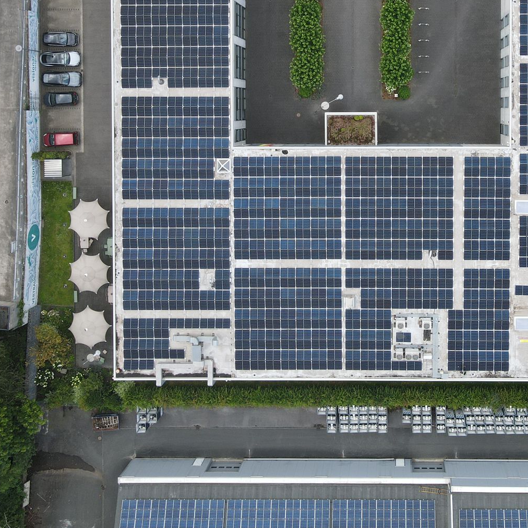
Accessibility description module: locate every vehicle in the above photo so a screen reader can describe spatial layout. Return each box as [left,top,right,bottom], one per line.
[42,30,80,48]
[45,91,79,107]
[43,70,83,89]
[42,50,82,68]
[44,130,80,147]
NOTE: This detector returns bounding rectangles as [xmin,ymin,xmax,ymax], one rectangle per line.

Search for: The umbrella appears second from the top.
[72,251,112,292]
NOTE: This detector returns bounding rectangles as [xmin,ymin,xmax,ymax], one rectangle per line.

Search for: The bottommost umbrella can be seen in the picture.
[71,306,114,347]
